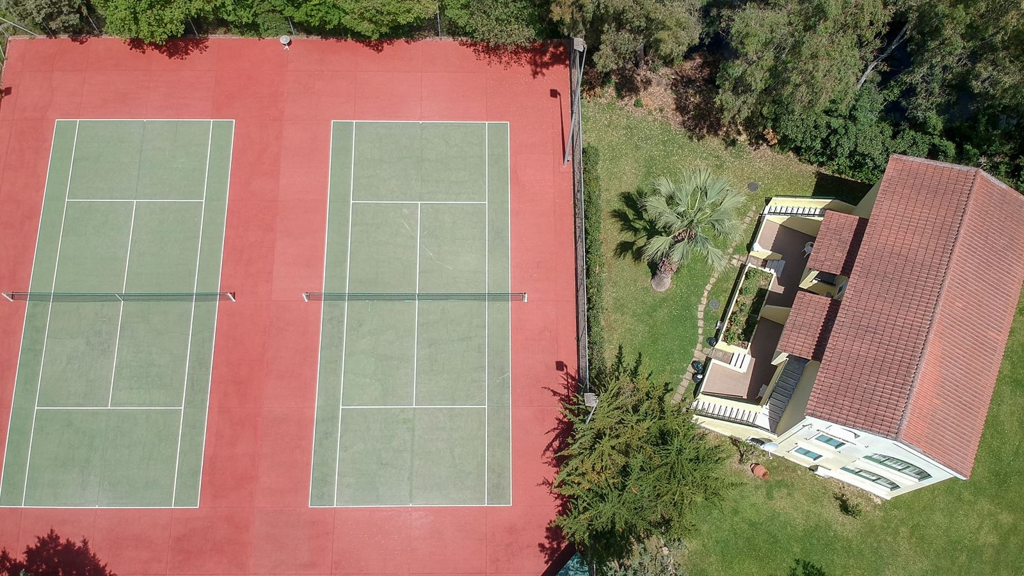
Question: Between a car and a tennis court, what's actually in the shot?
tennis court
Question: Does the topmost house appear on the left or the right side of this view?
right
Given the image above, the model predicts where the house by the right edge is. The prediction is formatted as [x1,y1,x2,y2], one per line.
[688,148,1024,500]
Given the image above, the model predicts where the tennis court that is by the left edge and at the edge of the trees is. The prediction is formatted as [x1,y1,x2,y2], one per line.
[0,38,289,576]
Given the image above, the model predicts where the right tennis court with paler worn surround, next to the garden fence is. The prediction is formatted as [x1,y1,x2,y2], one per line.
[250,40,585,576]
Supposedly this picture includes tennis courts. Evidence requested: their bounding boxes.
[0,38,289,576]
[250,40,585,576]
